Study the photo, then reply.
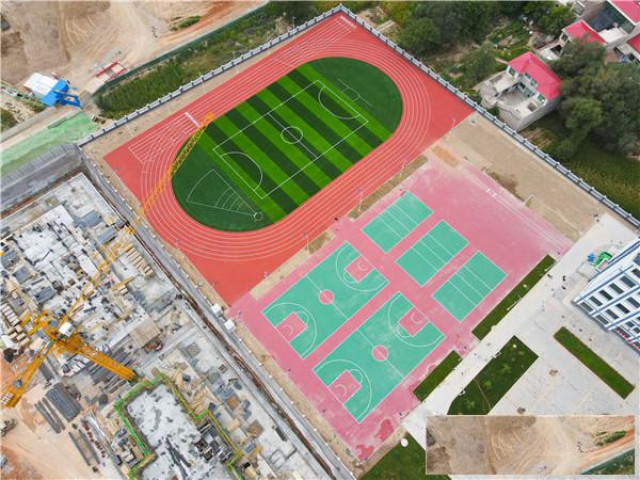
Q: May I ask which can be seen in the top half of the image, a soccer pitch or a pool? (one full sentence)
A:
The one visible in the top half of the image is a soccer pitch.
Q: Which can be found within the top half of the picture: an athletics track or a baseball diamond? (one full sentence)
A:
The feature located within the top half of the picture is an athletics track.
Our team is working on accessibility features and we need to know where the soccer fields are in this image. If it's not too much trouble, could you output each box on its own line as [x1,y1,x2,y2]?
[170,57,402,233]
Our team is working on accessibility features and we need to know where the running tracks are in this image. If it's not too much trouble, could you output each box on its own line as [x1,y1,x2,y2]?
[103,11,474,303]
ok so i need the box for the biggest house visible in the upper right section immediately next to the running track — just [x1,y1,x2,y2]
[477,48,574,128]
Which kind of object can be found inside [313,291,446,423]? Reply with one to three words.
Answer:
basketball court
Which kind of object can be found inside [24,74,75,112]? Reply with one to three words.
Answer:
shed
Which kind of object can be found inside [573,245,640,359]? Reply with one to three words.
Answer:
building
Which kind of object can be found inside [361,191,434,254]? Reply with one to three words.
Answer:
sports court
